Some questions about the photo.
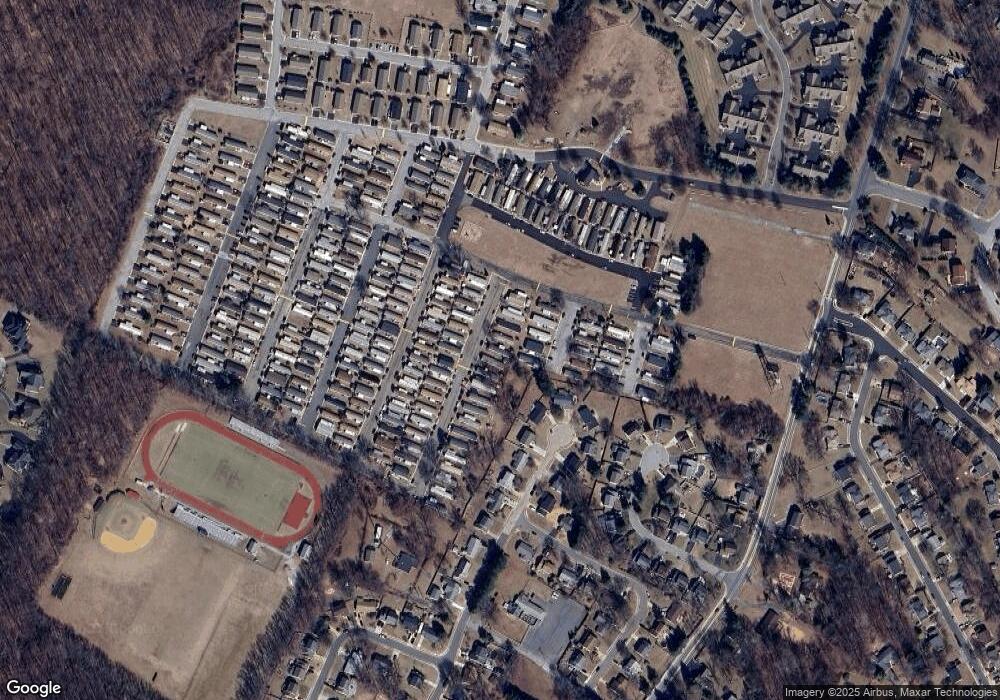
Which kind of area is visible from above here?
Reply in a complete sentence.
The area seen from above is a residential area.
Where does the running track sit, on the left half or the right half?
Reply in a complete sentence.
It is on the left.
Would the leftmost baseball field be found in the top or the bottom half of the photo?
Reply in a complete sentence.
Seen from above, the leftmost baseball field lies in the bottom half of the view.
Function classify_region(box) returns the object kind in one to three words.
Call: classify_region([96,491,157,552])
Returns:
baseball field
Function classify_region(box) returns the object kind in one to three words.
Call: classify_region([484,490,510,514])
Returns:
house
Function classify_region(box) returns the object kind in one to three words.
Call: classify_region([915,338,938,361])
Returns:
house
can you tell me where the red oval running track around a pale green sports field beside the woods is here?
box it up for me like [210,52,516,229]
[142,410,322,543]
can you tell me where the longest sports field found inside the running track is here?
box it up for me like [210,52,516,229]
[158,419,304,531]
